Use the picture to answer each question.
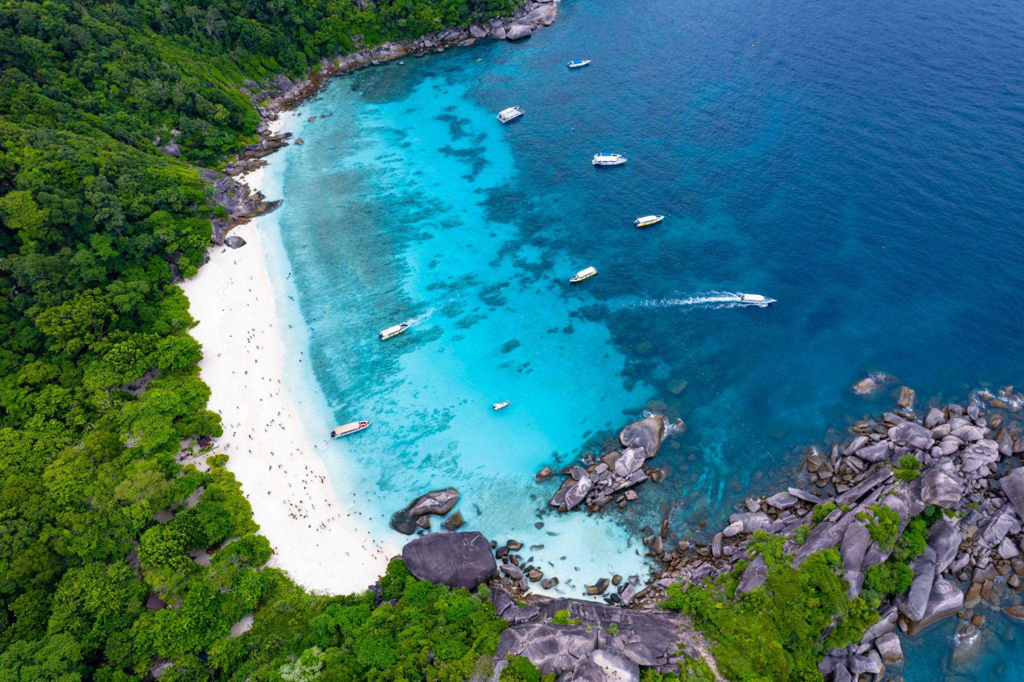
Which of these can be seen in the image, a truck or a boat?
boat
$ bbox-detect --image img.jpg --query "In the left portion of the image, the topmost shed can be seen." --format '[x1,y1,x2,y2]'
[193,432,219,455]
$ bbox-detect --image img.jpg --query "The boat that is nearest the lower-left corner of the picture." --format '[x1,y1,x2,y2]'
[327,420,370,440]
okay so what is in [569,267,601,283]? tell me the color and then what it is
white boat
